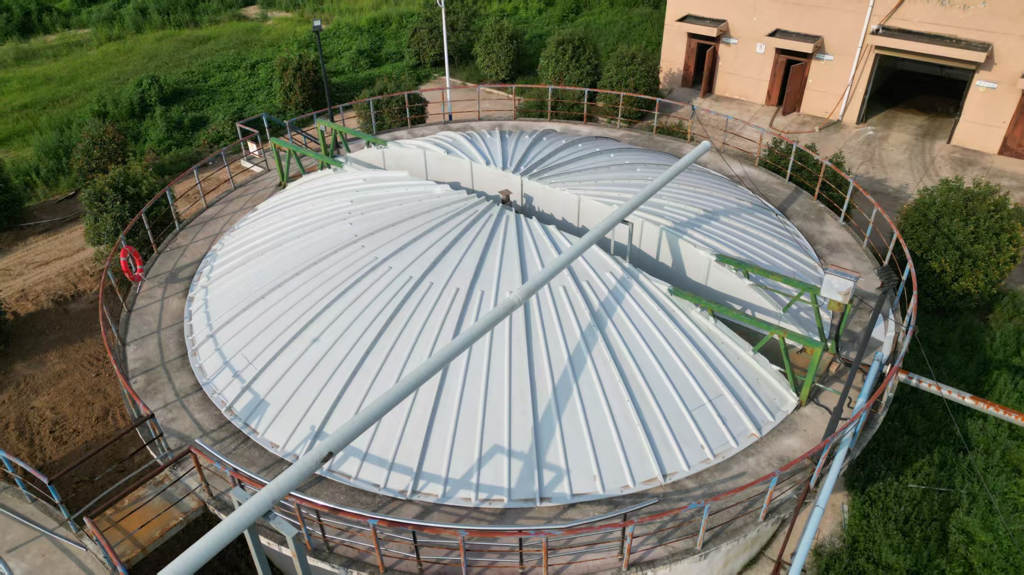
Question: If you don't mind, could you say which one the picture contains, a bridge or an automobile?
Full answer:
I can see a bridge in this picture.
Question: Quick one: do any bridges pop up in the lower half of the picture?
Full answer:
Yes, a bridge shows up in the lower half of the picture.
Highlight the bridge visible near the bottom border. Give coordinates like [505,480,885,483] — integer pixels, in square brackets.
[75,467,208,571]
